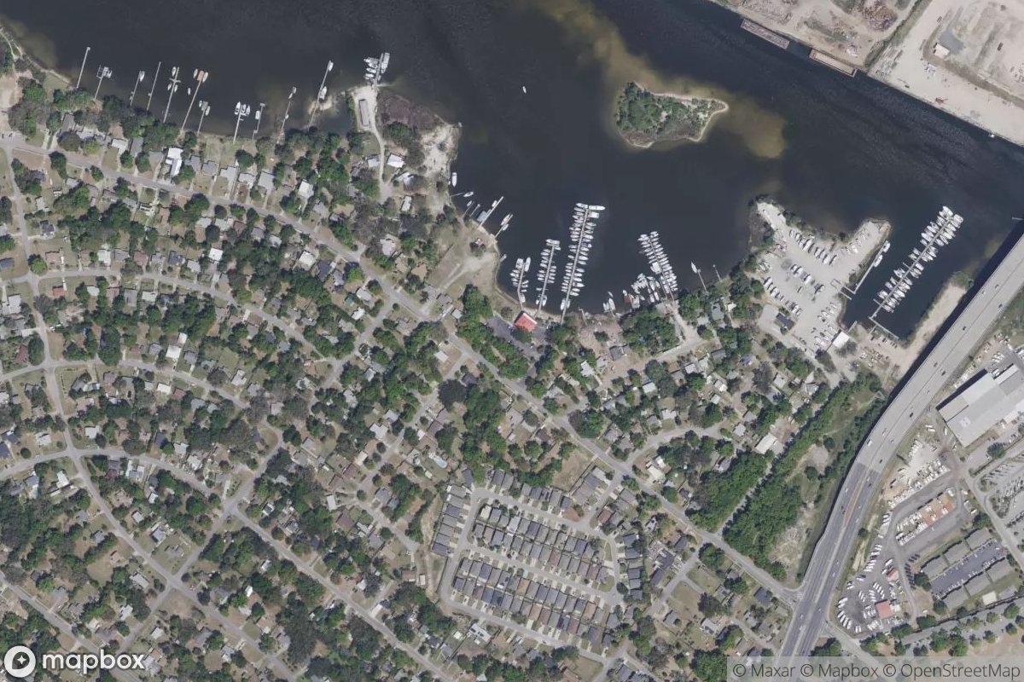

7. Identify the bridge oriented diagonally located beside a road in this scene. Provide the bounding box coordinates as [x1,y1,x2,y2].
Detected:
[853,236,1024,480]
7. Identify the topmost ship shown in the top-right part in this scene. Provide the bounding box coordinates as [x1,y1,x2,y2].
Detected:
[741,19,790,49]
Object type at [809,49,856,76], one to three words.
ship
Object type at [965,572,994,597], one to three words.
building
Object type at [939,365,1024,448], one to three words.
building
